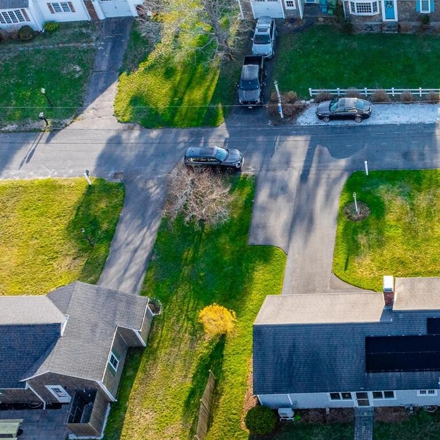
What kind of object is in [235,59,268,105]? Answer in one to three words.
truck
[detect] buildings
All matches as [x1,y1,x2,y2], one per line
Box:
[0,0,153,33]
[252,274,440,415]
[0,281,153,410]
[238,0,440,36]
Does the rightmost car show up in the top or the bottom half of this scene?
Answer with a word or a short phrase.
top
